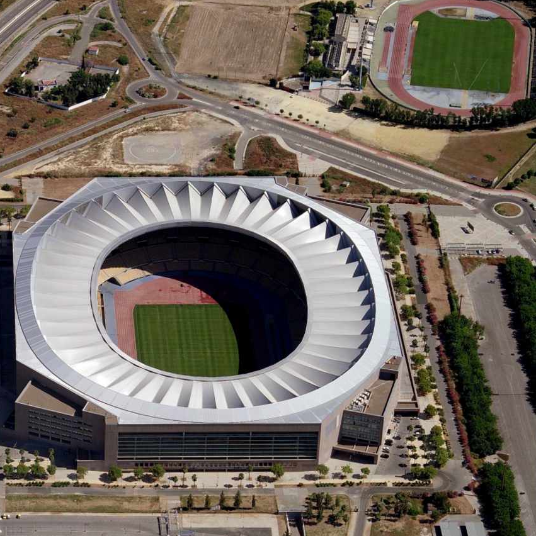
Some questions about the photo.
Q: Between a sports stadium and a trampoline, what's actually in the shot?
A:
sports stadium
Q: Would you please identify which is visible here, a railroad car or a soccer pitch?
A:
soccer pitch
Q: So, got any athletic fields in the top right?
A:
Yes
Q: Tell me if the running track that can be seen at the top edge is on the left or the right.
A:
right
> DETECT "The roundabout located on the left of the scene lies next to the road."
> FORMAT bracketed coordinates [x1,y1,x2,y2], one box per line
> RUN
[123,76,176,104]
